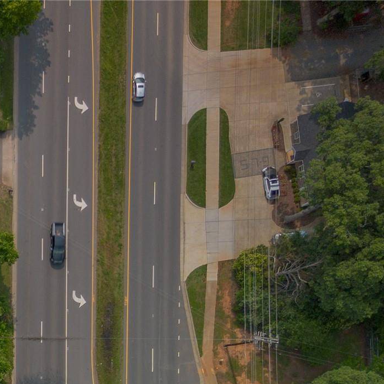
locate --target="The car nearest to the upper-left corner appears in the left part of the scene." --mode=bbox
[131,73,147,104]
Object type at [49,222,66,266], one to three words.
vehicle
